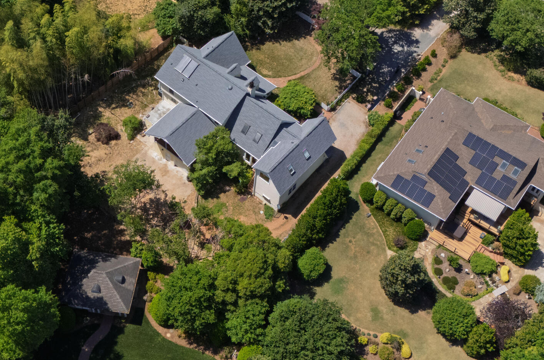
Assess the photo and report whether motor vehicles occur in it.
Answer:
No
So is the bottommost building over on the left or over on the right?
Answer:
left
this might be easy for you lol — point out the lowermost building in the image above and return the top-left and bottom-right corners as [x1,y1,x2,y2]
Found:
[60,249,142,322]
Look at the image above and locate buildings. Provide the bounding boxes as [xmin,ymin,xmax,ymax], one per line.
[371,87,544,230]
[60,249,142,322]
[143,32,337,209]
